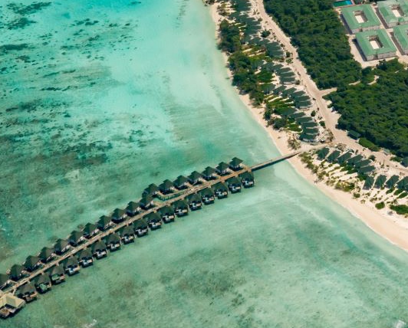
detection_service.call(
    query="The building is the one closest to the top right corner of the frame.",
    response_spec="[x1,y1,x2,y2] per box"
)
[378,0,408,28]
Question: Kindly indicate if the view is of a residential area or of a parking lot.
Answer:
residential area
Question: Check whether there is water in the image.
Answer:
Yes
